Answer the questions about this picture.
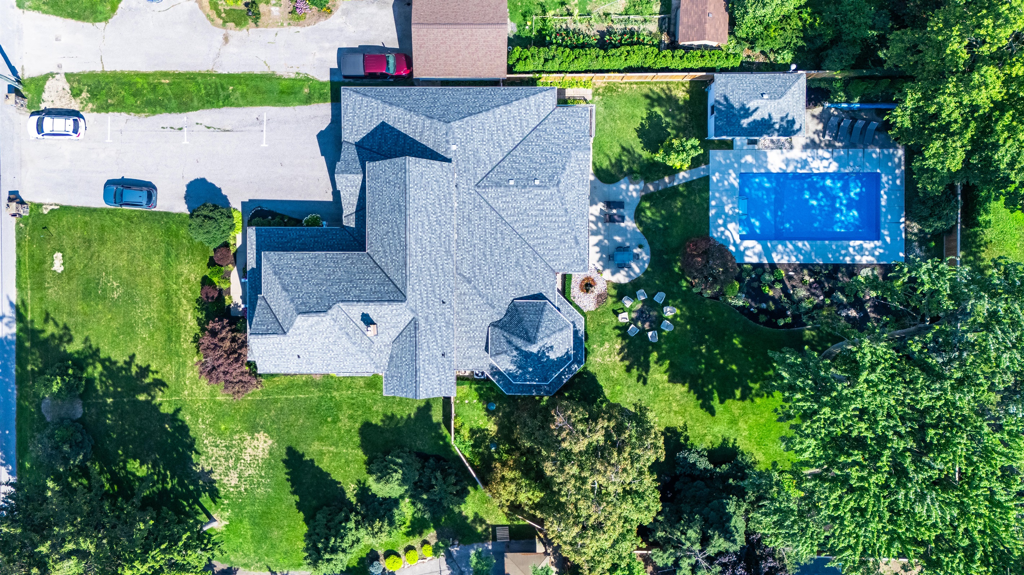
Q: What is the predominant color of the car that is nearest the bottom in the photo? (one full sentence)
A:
The color of the car that is nearest the bottom is blue.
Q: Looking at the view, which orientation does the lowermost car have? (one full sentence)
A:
In this picture, the lowermost car is oriented horizontally.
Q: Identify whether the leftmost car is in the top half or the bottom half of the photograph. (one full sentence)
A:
The leftmost car is in the top half of the image.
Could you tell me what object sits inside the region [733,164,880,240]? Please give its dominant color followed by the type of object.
blue swimming pool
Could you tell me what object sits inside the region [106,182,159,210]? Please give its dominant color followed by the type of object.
blue car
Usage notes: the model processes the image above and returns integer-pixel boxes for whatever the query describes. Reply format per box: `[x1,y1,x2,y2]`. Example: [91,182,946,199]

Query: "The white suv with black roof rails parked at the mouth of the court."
[30,111,88,140]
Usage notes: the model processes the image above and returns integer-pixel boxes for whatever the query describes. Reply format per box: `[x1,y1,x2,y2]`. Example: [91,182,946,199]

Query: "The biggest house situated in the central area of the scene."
[235,84,591,399]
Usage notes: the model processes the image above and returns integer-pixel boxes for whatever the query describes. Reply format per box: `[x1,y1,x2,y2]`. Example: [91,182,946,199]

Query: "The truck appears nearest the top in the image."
[342,49,411,80]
